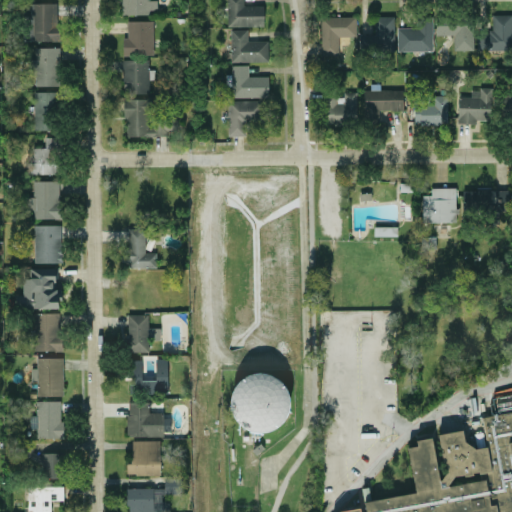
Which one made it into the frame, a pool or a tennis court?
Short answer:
pool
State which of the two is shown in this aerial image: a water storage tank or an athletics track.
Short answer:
water storage tank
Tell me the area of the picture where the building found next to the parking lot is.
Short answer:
bottom right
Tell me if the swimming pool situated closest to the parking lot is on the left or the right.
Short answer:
right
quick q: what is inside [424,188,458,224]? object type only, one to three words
house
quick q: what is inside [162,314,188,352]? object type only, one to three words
swimming pool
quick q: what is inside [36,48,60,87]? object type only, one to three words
house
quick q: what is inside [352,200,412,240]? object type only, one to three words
swimming pool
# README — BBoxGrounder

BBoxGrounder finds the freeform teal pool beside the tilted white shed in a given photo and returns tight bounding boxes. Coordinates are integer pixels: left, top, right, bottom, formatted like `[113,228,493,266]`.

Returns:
[158,234,184,252]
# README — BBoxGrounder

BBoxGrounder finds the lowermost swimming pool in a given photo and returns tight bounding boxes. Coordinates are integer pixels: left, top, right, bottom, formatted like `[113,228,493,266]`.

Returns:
[172,405,189,436]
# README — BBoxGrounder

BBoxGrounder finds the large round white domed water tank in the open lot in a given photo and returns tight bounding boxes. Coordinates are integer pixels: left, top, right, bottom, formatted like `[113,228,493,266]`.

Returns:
[232,374,290,434]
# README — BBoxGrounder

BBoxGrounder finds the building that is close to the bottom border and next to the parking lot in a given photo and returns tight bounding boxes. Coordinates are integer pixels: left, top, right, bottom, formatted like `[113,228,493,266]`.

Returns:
[340,411,512,512]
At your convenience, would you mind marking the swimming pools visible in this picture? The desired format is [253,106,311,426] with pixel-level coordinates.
[162,314,188,352]
[12,373,23,384]
[352,200,412,240]
[158,234,184,252]
[143,356,158,382]
[172,405,189,436]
